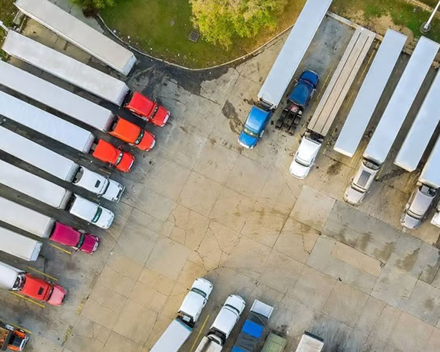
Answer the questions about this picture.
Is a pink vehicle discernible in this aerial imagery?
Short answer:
Yes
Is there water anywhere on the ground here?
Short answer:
No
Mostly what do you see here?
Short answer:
paved ground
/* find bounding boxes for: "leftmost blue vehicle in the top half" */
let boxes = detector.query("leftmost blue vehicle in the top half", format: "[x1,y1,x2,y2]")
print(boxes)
[239,102,273,149]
